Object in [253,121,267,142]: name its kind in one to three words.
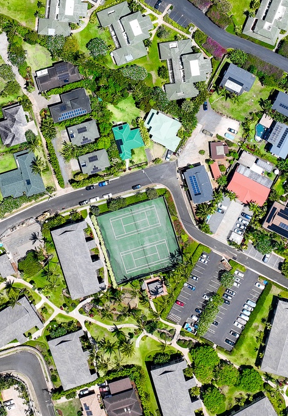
swimming pool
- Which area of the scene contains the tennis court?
center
